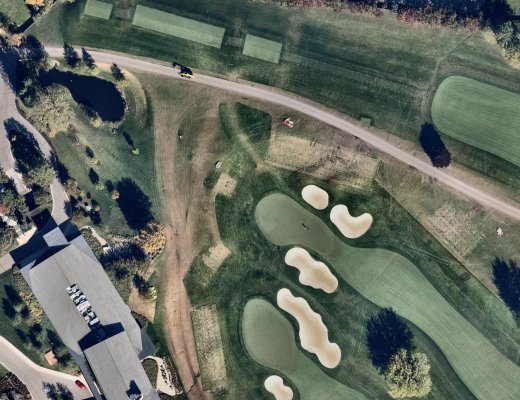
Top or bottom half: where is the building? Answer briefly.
bottom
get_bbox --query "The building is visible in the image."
[20,227,162,400]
